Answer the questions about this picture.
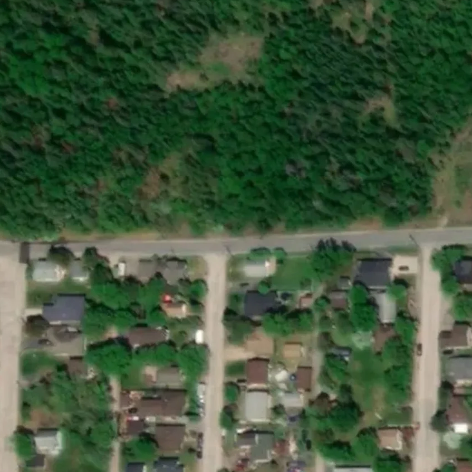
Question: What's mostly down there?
trees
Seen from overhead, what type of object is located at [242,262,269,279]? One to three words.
house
